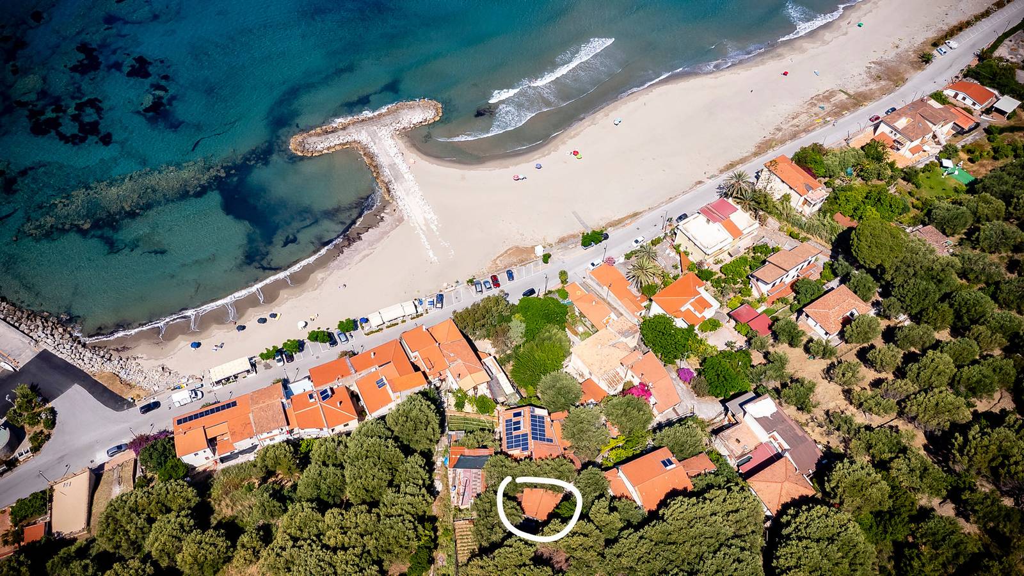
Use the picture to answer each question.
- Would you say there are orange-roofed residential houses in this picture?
Yes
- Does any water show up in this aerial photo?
Yes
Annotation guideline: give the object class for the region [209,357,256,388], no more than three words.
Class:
building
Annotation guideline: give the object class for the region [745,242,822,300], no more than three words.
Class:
house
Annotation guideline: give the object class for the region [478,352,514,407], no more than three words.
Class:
shed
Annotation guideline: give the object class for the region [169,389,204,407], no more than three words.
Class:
vehicle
